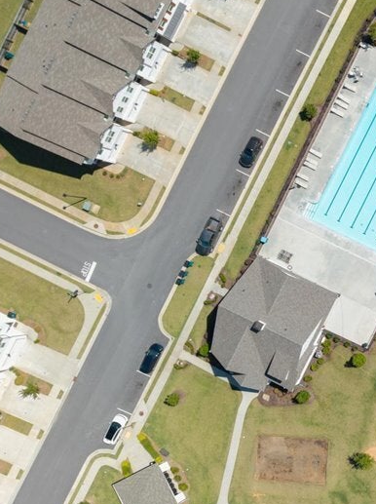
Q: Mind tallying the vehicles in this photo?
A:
4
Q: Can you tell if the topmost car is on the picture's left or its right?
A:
right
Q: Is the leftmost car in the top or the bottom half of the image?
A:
bottom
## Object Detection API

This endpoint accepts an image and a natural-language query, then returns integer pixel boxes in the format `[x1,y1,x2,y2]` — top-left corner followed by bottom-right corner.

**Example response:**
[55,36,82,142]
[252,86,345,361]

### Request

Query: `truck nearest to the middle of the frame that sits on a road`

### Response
[197,218,223,255]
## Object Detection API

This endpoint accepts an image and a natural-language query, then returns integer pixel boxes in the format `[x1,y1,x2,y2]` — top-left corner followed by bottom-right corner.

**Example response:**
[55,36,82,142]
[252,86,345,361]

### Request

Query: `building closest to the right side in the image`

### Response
[202,255,336,392]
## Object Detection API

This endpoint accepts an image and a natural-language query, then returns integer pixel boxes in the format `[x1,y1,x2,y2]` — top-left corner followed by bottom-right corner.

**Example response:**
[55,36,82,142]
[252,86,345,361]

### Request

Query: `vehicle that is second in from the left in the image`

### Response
[137,342,166,375]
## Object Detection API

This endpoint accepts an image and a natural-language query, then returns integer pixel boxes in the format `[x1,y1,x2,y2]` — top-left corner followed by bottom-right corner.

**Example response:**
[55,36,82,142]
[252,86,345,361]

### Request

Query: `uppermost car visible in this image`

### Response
[240,136,264,168]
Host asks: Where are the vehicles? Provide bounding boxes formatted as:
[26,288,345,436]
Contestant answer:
[240,136,264,168]
[137,342,166,375]
[197,218,223,255]
[103,414,129,445]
